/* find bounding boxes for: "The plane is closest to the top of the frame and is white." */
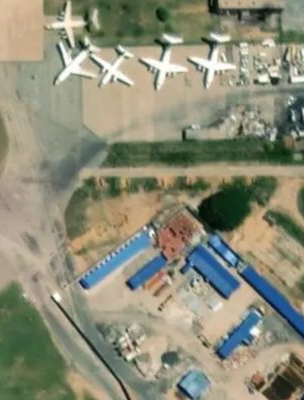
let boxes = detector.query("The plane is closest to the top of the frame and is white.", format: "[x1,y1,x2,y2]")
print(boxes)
[45,1,94,48]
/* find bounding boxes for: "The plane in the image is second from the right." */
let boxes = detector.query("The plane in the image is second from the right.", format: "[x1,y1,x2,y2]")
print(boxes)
[141,28,190,89]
